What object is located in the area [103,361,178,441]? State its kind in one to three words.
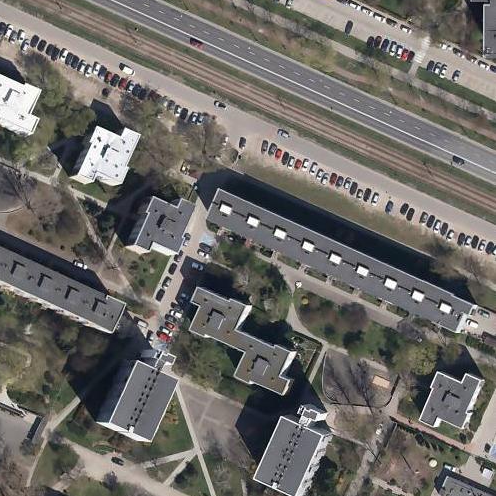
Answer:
building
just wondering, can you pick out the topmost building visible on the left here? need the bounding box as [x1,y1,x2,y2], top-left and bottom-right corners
[0,75,42,137]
